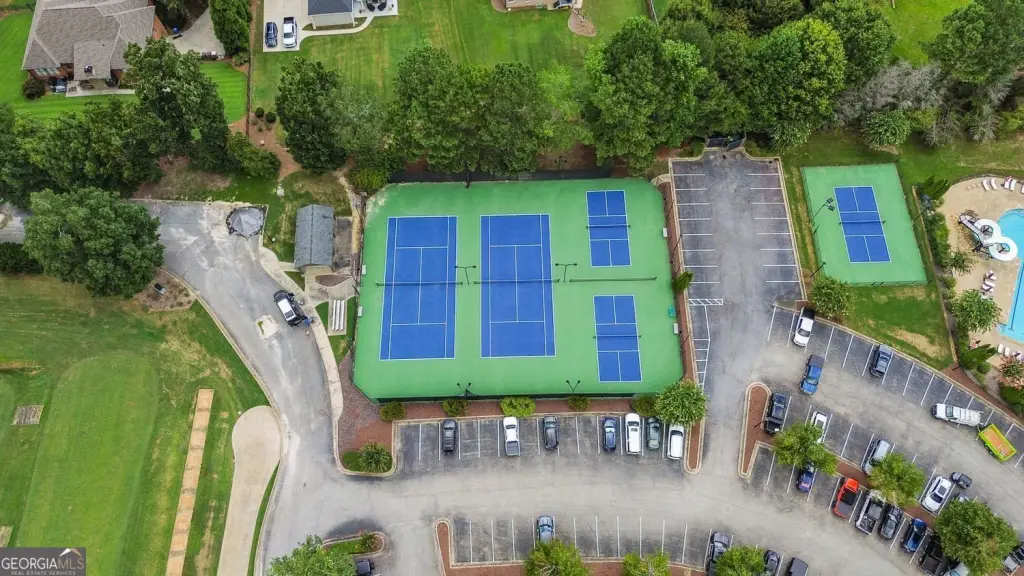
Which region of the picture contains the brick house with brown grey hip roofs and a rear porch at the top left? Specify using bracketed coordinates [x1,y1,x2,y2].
[21,0,159,90]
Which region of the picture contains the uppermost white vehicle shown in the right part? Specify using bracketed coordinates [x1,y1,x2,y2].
[793,305,816,349]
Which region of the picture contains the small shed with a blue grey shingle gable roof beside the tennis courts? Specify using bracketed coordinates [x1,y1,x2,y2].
[293,204,334,265]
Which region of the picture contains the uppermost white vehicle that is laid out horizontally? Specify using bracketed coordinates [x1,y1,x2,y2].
[930,404,988,428]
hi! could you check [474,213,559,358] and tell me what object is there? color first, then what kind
blue tennis court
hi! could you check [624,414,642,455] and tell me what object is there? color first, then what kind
white car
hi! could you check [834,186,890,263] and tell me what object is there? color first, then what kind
blue sports court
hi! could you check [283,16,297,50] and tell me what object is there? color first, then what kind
white vehicle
